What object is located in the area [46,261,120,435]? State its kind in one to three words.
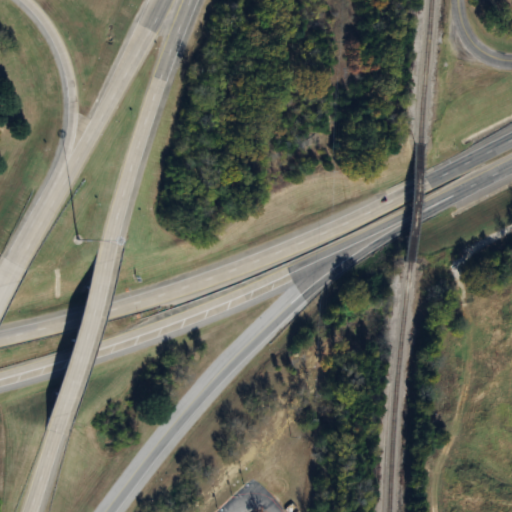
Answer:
overpass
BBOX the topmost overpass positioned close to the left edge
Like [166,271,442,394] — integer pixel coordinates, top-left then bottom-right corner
[0,258,26,324]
